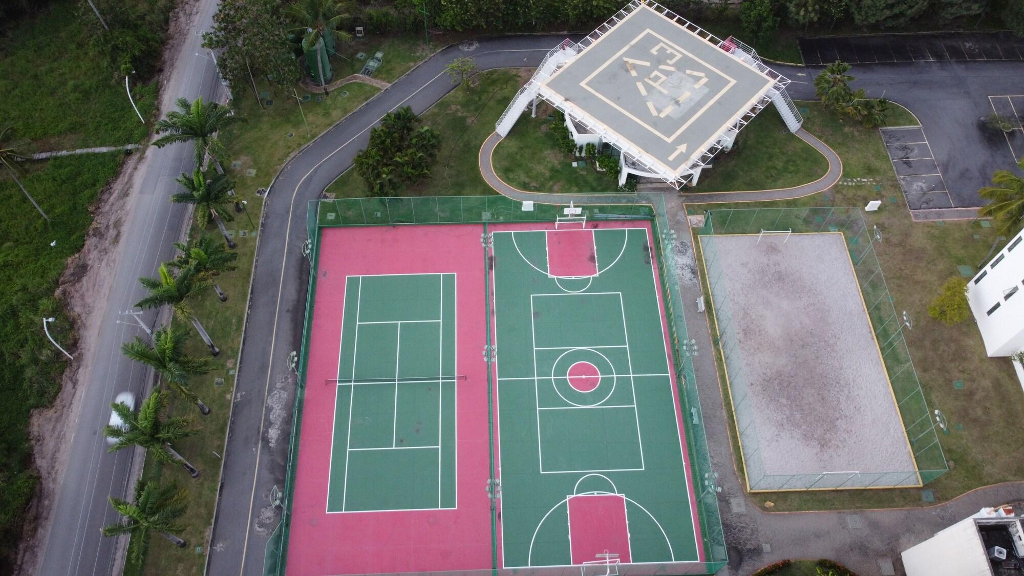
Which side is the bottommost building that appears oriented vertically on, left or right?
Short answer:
right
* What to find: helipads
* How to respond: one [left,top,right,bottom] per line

[495,0,810,192]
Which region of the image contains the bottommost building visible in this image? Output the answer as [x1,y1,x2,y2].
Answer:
[900,501,1024,576]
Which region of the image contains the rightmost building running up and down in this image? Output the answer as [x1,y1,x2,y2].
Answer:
[967,228,1024,356]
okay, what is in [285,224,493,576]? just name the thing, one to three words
tennis court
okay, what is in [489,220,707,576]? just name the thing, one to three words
basketball court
